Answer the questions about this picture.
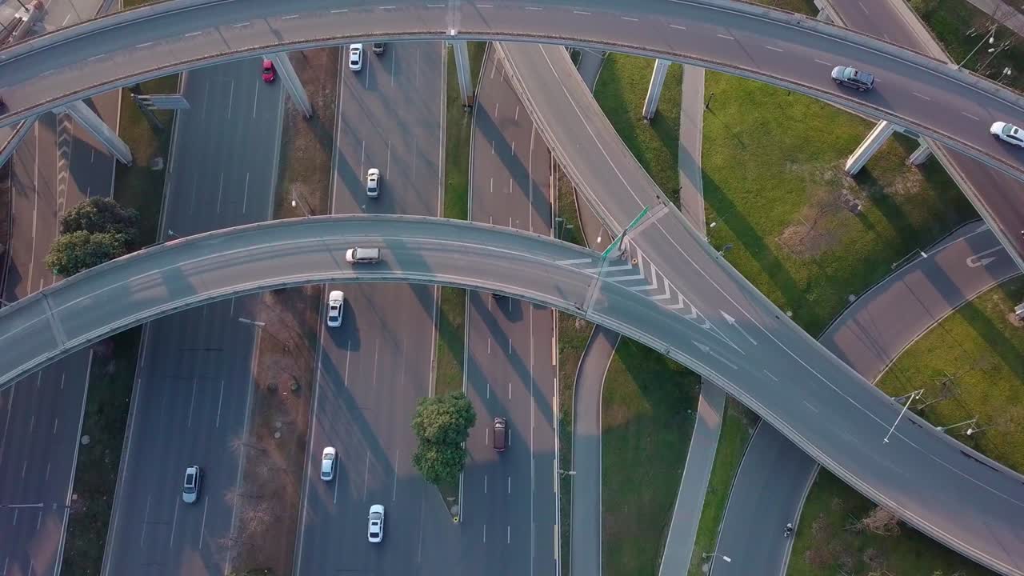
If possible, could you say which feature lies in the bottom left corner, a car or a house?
car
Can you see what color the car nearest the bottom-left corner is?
blue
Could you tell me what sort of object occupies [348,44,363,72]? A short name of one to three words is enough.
car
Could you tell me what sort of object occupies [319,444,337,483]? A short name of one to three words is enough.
car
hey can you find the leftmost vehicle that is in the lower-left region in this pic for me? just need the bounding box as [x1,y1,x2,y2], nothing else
[181,465,203,504]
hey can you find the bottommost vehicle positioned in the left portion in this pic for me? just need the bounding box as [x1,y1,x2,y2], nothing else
[367,503,385,543]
